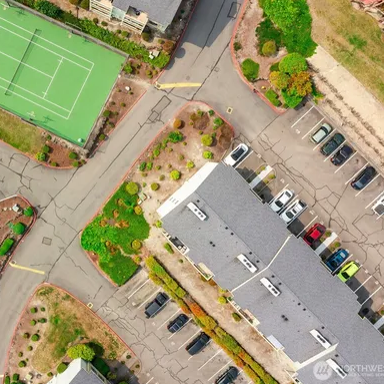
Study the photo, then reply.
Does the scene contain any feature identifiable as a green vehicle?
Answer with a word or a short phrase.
Yes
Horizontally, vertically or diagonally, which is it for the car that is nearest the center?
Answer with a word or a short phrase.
diagonally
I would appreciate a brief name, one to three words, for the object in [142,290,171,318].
truck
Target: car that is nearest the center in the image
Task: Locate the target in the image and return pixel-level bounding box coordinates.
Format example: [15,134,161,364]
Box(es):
[223,142,250,168]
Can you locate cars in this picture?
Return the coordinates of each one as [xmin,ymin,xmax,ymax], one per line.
[213,363,239,384]
[319,132,346,156]
[349,165,376,189]
[329,144,355,168]
[223,142,250,168]
[324,245,350,270]
[268,188,294,213]
[336,259,361,281]
[280,198,307,223]
[301,221,327,245]
[185,330,211,355]
[165,311,189,334]
[309,122,332,144]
